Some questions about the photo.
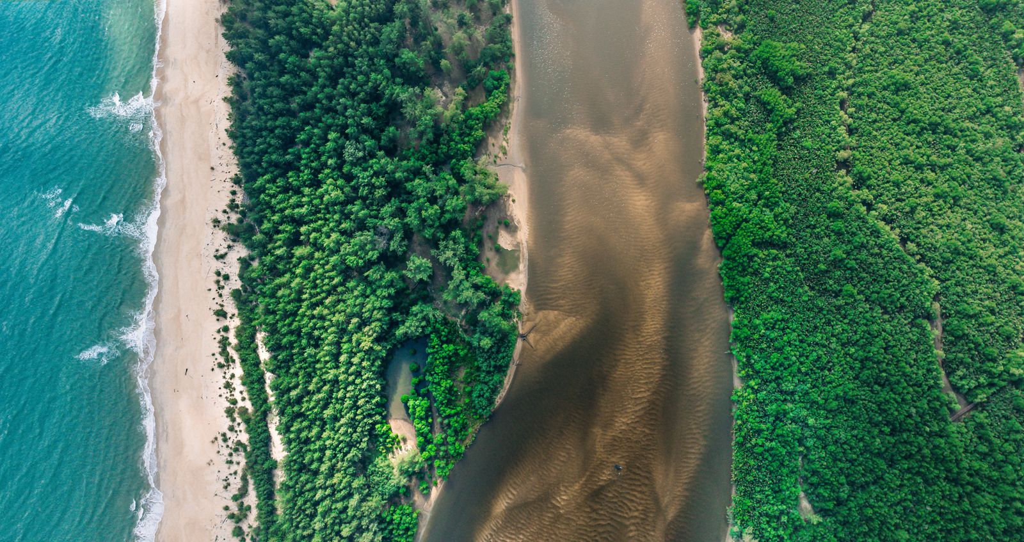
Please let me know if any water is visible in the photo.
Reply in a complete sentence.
Yes, water shows up in the scene.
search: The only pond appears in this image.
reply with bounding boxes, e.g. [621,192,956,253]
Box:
[387,339,434,419]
